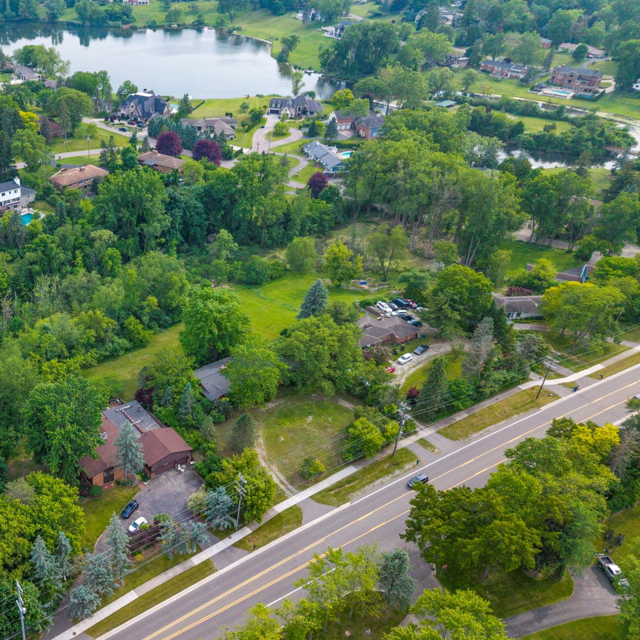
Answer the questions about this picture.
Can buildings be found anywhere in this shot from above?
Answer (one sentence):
Yes, I can see a building in this picture.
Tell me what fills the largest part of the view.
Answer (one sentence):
Most of the picture is covered by trees.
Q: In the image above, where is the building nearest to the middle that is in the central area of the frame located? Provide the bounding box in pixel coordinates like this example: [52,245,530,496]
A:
[338,312,419,359]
